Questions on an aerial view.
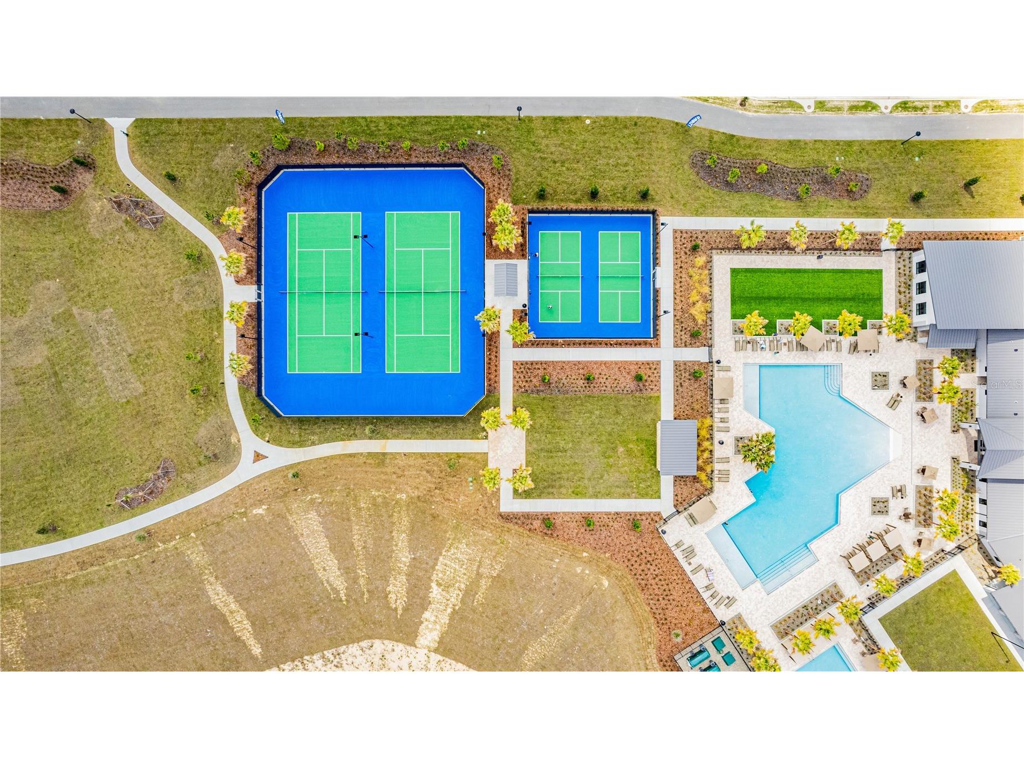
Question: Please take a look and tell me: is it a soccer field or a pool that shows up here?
pool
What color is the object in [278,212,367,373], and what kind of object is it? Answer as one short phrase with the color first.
green tennis court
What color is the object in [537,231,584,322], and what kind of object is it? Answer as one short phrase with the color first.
green sports court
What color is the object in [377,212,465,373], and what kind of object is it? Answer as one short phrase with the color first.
green tennis court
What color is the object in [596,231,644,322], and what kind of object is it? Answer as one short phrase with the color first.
green sports court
